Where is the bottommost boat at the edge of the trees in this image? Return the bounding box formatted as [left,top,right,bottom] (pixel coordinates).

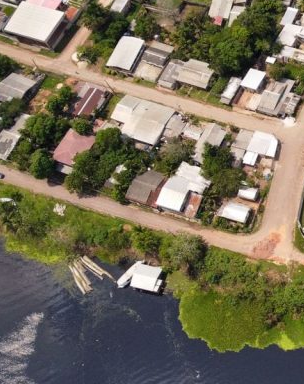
[118,261,146,288]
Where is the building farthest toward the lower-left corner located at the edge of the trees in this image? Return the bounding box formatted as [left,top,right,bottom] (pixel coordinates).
[129,264,165,295]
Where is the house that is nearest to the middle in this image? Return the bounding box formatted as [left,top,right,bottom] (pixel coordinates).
[126,169,169,209]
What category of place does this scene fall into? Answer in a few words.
residential area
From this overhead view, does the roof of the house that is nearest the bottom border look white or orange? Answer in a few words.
white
